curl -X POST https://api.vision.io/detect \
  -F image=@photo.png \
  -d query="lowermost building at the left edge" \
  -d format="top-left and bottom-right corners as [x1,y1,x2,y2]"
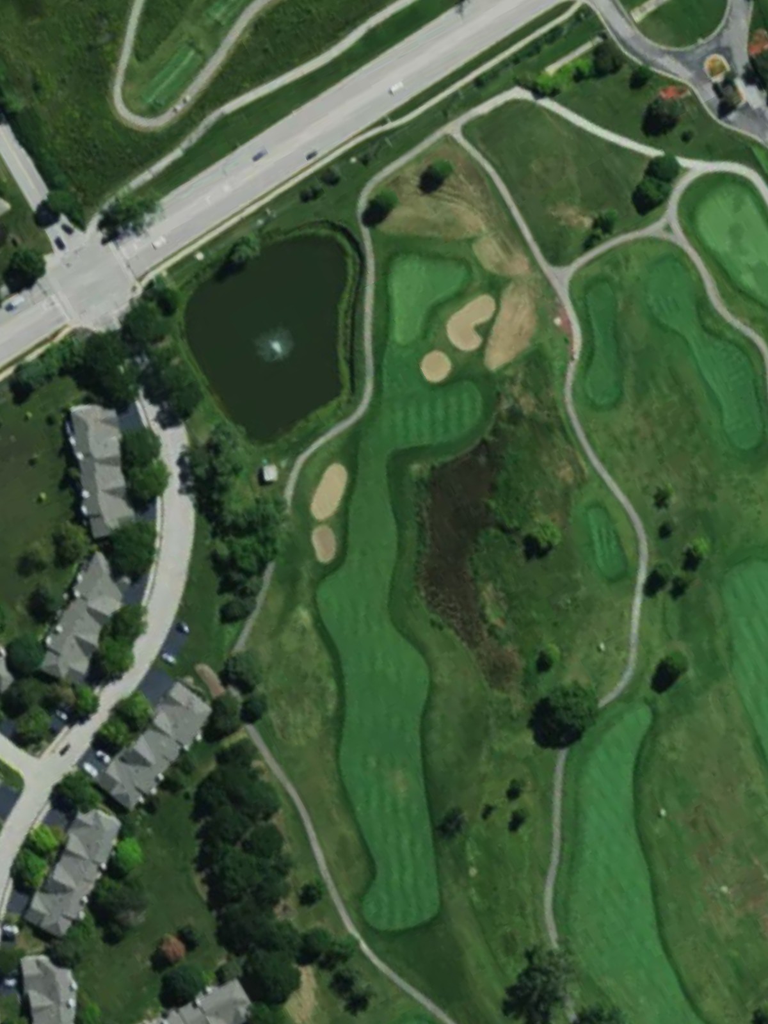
[20,954,76,1024]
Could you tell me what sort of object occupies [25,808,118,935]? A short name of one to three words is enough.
house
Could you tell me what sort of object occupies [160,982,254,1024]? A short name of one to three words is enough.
house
